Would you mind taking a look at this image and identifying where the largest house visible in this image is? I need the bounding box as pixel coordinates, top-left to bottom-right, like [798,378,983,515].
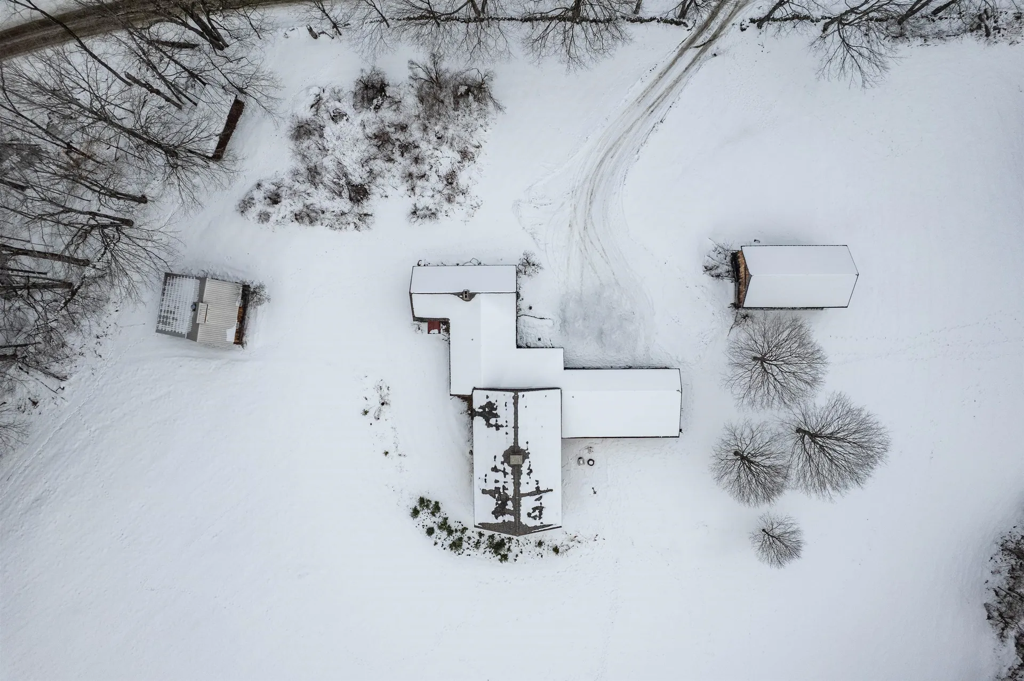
[409,264,685,536]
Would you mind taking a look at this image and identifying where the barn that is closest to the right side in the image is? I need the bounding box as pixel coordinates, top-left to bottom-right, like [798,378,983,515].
[735,245,859,309]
